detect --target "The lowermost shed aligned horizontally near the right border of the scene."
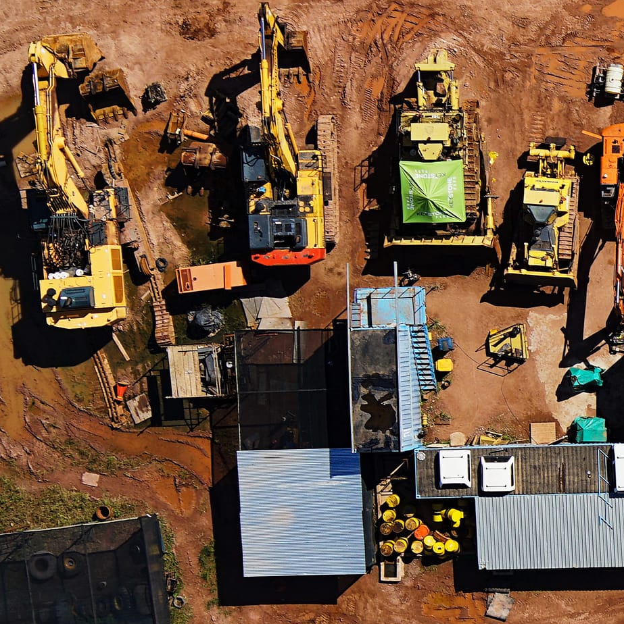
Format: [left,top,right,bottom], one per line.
[475,494,624,569]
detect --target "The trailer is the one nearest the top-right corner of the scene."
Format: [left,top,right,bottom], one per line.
[593,57,624,99]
